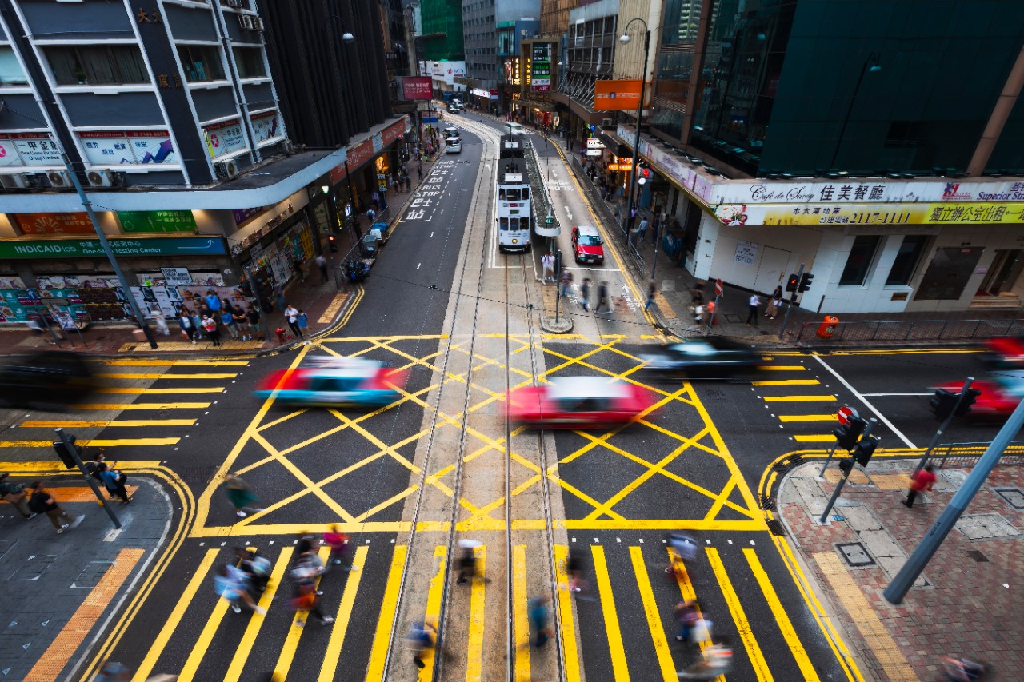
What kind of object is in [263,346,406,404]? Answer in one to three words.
car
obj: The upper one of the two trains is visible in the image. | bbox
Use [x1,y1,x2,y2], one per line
[501,117,526,157]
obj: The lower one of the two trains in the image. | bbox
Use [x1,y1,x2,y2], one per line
[496,138,534,249]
